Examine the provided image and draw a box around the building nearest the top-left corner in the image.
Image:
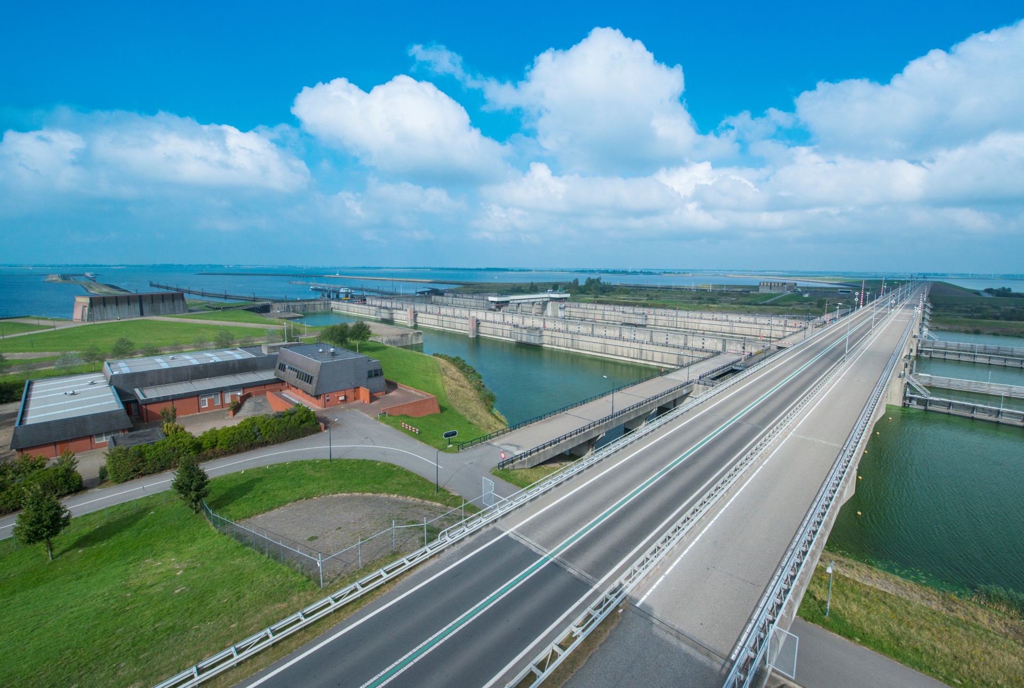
[73,292,187,321]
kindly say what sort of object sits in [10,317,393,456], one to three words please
building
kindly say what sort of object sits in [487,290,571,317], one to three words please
building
